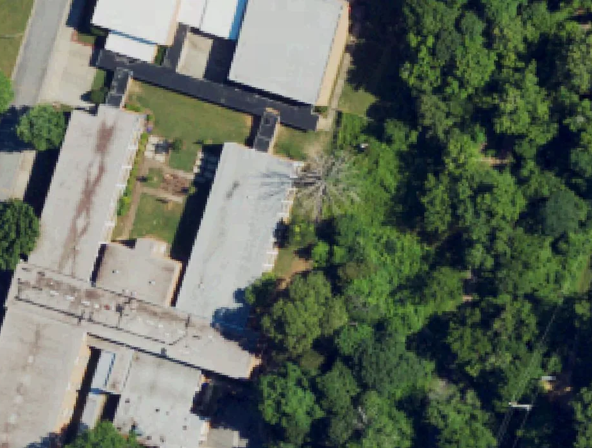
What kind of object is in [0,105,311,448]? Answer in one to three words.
building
